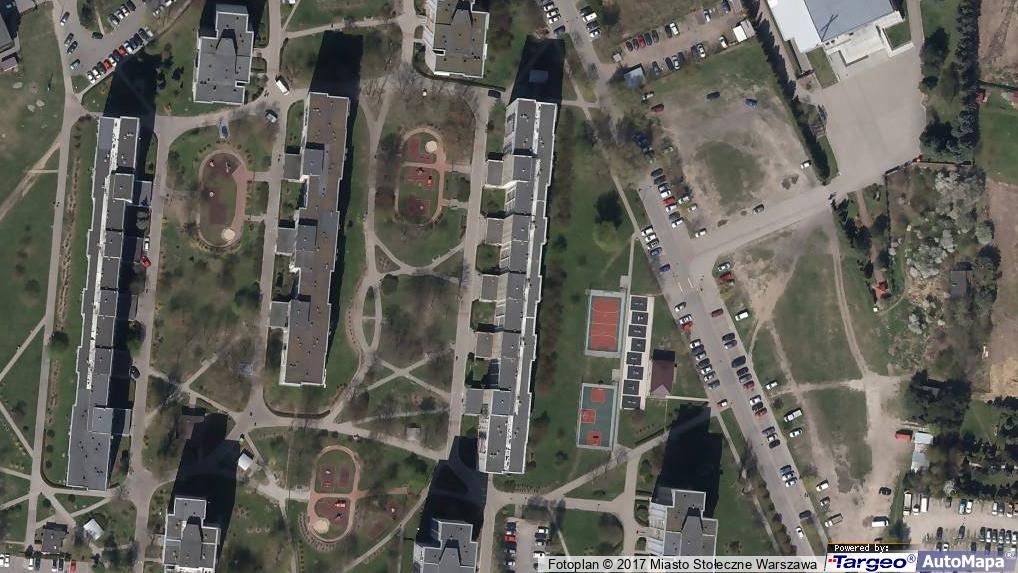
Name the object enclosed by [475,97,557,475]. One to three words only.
building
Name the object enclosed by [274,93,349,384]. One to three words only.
building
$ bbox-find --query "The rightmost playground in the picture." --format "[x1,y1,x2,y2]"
[394,126,448,226]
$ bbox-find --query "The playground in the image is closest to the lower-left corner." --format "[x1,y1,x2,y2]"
[306,447,362,544]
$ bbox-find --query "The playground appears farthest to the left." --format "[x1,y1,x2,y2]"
[198,148,247,249]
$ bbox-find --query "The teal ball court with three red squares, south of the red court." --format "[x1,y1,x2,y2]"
[577,384,618,452]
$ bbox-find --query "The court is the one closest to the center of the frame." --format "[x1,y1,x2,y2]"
[586,290,625,358]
